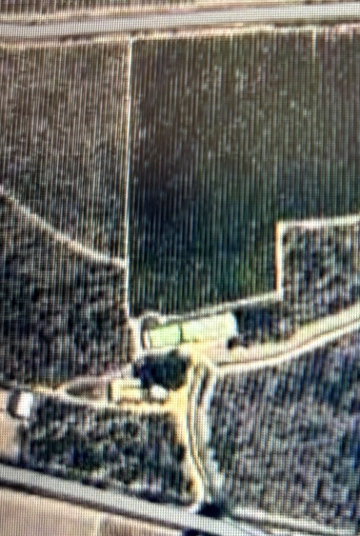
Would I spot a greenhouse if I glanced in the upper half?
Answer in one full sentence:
No, there is no greenhouse in the upper half.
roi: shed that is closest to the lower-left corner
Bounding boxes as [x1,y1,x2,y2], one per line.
[11,391,31,418]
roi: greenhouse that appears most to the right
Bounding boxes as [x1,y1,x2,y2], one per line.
[178,315,234,342]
